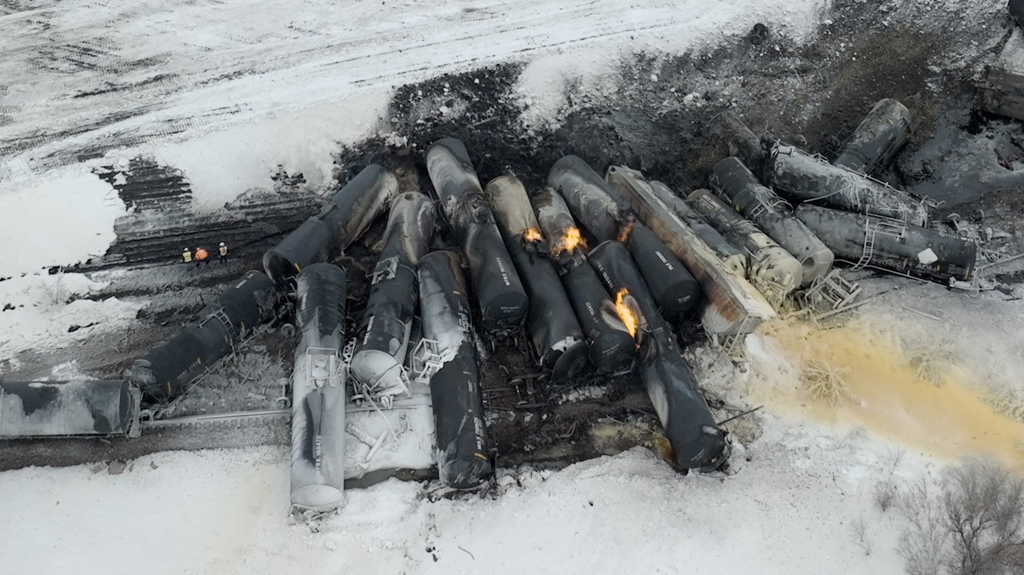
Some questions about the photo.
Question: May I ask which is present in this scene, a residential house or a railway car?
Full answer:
It is a railway car that can be seen here.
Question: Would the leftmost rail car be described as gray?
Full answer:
Yes, the leftmost rail car is gray.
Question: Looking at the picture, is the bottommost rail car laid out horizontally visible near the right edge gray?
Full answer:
Yes, the bottommost rail car laid out horizontally visible near the right edge is gray.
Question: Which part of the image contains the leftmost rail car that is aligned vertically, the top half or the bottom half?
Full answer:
You can find the leftmost rail car that is aligned vertically in the bottom half.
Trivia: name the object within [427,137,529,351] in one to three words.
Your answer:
rail car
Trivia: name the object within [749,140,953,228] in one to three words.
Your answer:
rail car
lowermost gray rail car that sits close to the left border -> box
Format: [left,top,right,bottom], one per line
[0,378,151,438]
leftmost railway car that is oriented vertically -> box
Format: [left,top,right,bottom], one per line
[287,260,355,534]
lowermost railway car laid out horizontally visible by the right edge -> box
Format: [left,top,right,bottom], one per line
[805,195,998,296]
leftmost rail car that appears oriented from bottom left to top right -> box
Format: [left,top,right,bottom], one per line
[122,271,291,410]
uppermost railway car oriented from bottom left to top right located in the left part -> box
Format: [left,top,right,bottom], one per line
[266,166,398,290]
